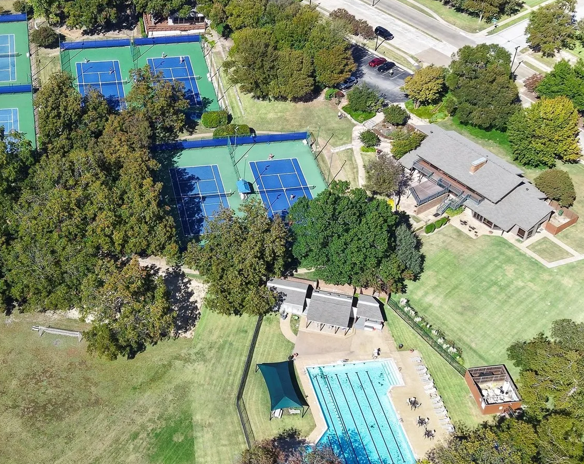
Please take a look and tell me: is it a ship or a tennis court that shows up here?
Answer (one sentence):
Visible in the photo is a tennis court.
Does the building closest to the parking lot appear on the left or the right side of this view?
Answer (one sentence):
It is on the right.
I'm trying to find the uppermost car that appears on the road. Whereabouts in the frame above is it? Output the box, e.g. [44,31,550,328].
[377,24,393,36]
